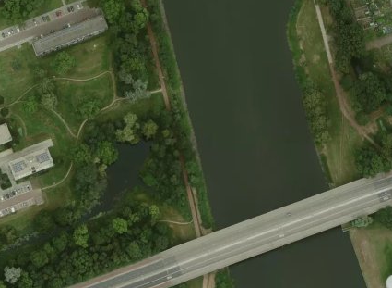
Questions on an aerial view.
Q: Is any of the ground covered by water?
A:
Yes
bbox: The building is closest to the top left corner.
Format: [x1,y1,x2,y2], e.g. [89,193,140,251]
[32,16,107,57]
